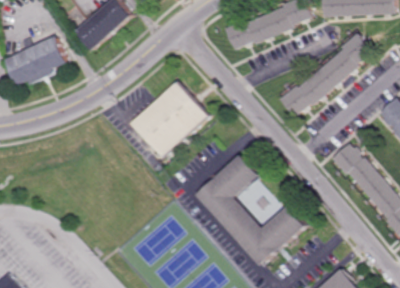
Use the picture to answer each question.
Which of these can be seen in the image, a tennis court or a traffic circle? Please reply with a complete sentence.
Of the two, only a tennis court appears.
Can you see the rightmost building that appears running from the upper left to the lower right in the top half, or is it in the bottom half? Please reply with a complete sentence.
Seen from above, the rightmost building that appears running from the upper left to the lower right lies in the bottom half of the view.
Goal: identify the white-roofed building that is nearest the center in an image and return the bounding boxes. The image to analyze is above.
[128,83,208,158]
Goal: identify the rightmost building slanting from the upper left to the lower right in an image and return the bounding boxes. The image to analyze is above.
[334,143,400,237]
